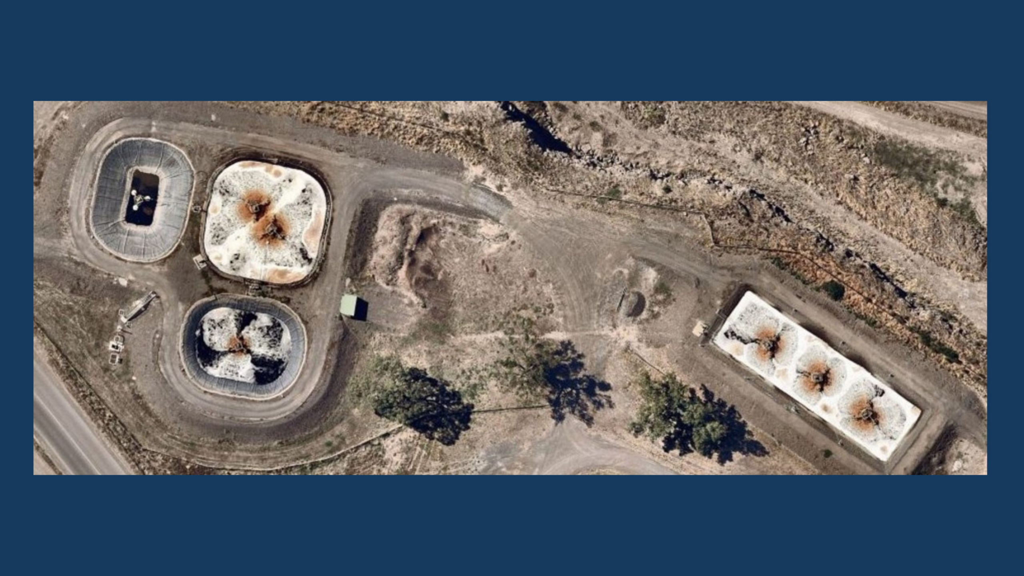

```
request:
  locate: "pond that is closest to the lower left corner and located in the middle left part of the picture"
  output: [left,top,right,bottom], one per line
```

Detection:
[178,293,308,401]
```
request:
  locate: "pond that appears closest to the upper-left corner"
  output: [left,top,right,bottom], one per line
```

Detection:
[88,136,195,262]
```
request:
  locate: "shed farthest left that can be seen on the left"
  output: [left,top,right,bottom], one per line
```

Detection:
[339,295,356,317]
